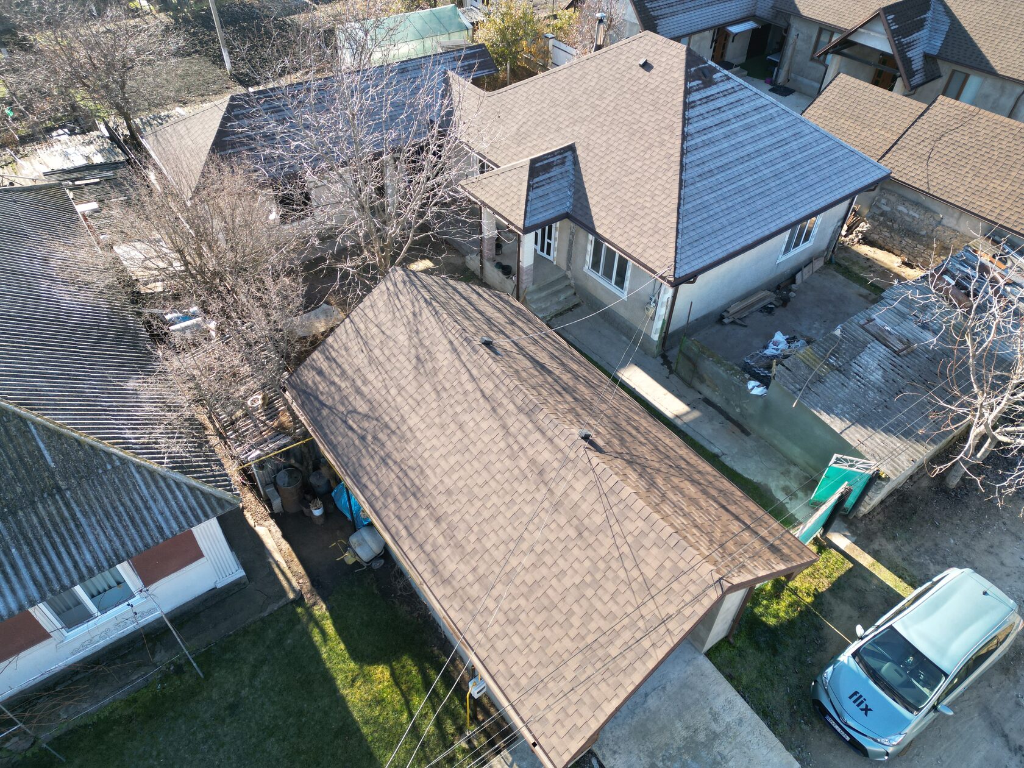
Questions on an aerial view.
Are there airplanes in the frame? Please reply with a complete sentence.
No, I can't see a single airplane in this photo.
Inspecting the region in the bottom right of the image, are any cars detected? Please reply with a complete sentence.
Yes, you'll find a car in the bottom right of the image.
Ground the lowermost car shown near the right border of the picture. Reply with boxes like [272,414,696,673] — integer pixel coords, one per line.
[808,567,1021,764]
